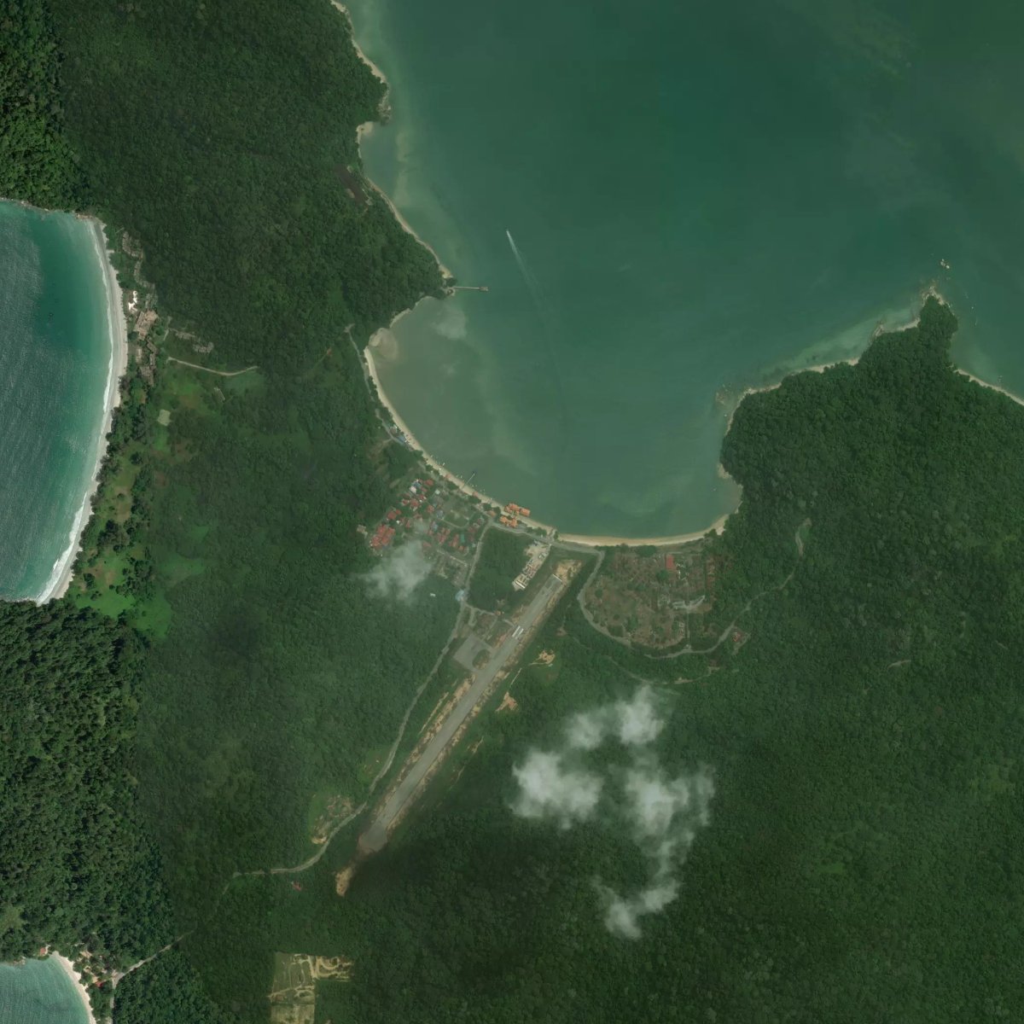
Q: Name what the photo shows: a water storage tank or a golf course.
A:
golf course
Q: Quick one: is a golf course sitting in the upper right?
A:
No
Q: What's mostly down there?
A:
trees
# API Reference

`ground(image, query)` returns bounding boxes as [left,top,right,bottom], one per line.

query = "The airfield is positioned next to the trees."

[361,575,562,851]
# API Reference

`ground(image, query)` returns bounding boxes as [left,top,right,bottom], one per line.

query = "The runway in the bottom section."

[375,575,562,833]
